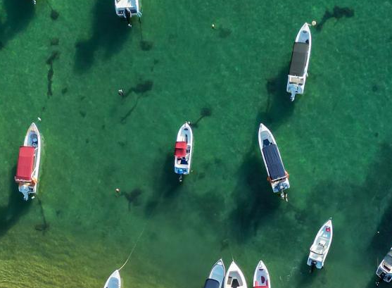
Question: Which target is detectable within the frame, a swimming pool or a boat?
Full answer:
Of the two, only a boat appears.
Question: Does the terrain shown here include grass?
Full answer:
No, the picture contains no grass.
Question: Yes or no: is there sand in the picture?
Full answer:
Yes, sand shows up in the scene.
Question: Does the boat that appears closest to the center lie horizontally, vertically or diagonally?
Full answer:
The boat that appears closest to the center is laid out vertically.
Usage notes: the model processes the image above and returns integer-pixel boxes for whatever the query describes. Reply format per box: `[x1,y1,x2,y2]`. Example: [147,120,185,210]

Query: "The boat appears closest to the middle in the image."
[173,122,193,185]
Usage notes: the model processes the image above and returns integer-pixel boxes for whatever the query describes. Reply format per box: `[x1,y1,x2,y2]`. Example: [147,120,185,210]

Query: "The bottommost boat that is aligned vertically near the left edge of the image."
[16,122,41,203]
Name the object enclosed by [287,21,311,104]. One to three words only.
boat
